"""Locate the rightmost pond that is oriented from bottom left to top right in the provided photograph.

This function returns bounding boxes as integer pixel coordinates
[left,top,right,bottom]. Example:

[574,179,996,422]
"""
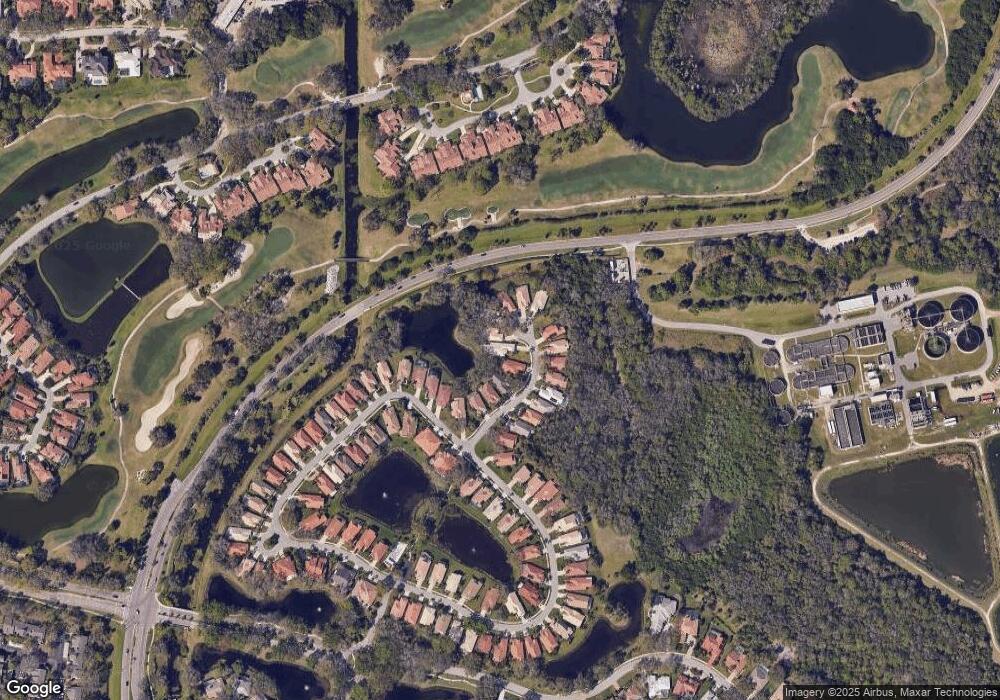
[546,580,645,680]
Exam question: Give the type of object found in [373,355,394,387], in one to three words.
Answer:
house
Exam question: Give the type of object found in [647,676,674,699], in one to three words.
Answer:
house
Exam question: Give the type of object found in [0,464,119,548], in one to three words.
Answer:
pond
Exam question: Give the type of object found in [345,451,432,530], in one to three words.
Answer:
pond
